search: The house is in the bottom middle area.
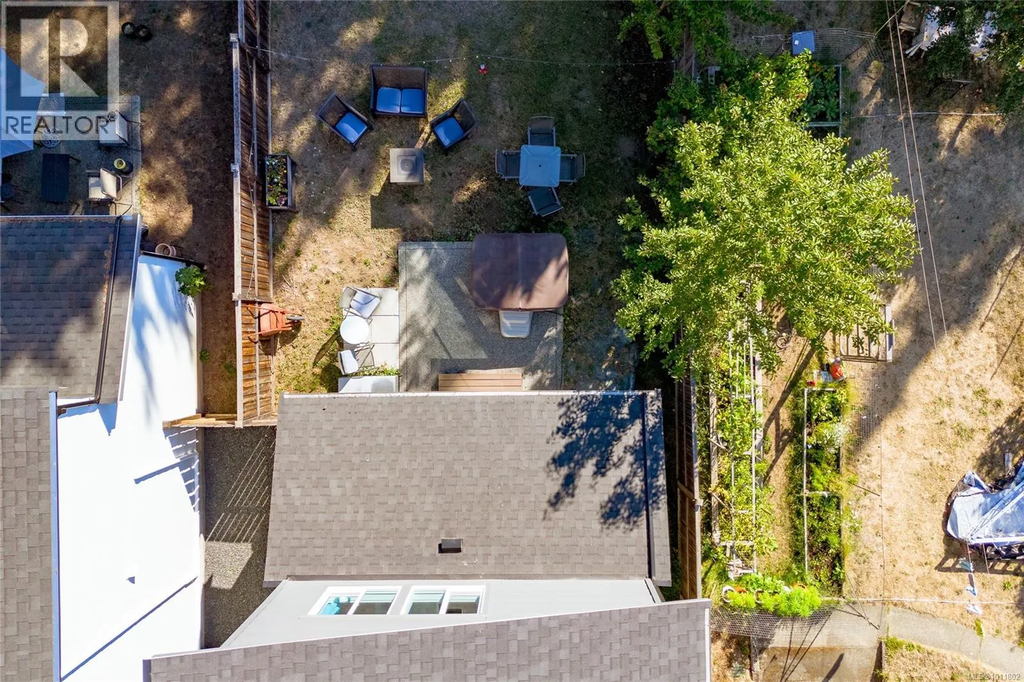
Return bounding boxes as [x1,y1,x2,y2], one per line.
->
[145,390,715,682]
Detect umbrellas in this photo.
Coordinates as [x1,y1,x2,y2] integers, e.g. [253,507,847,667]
[0,49,61,161]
